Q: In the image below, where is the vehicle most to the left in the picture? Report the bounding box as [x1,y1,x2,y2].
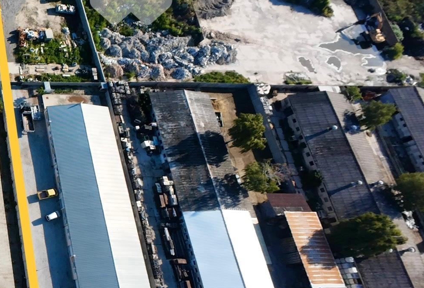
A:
[20,107,37,130]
